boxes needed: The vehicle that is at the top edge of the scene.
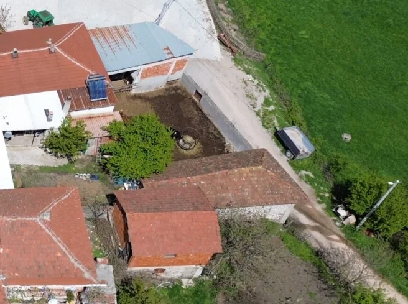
[22,7,59,29]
